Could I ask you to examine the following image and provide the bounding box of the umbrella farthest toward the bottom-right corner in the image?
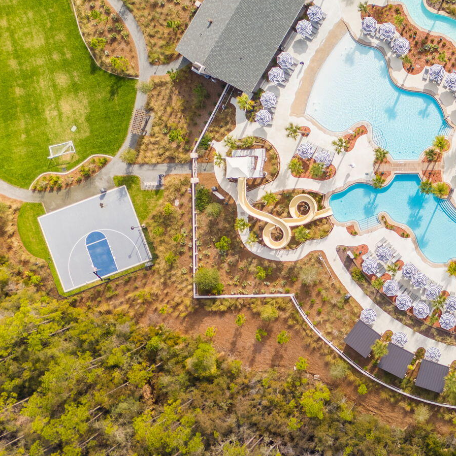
[425,345,442,362]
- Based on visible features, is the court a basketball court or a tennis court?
basketball court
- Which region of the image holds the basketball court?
left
